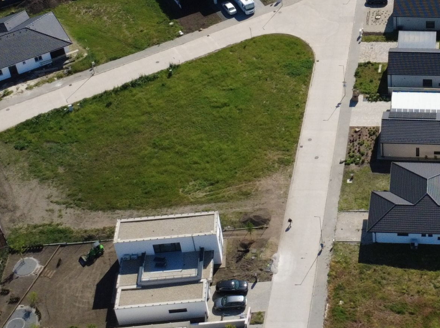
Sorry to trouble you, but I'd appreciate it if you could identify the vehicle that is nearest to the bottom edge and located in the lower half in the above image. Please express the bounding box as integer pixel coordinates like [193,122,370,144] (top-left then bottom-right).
[212,293,246,310]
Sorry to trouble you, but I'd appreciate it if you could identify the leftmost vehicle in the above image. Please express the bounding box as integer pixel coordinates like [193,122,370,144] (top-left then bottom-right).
[76,241,102,267]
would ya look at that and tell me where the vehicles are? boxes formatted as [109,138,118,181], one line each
[237,0,254,12]
[76,241,102,267]
[213,276,249,293]
[220,0,238,14]
[212,293,246,310]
